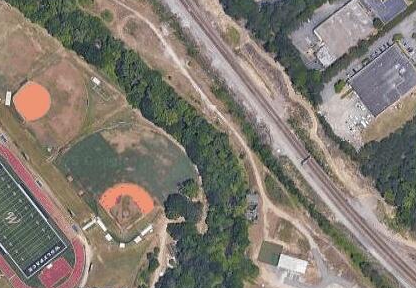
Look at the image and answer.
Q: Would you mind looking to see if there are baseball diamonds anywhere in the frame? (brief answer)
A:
Yes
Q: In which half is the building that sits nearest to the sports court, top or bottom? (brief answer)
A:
bottom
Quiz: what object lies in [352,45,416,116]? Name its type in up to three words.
building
